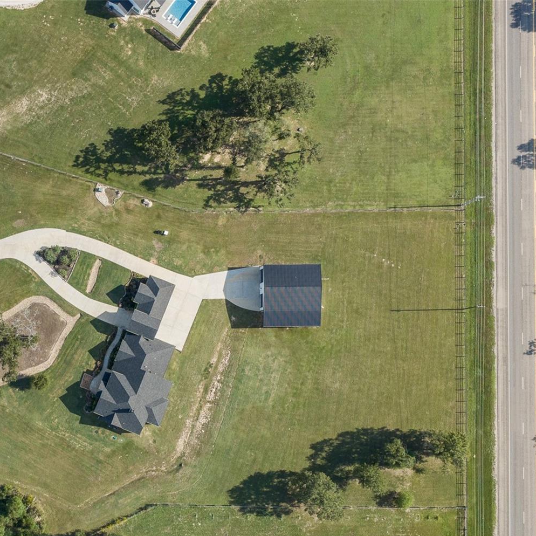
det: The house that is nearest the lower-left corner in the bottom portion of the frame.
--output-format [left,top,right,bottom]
[93,332,176,435]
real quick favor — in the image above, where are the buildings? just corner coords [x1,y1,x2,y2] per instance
[260,264,329,327]
[93,332,176,435]
[108,0,150,17]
